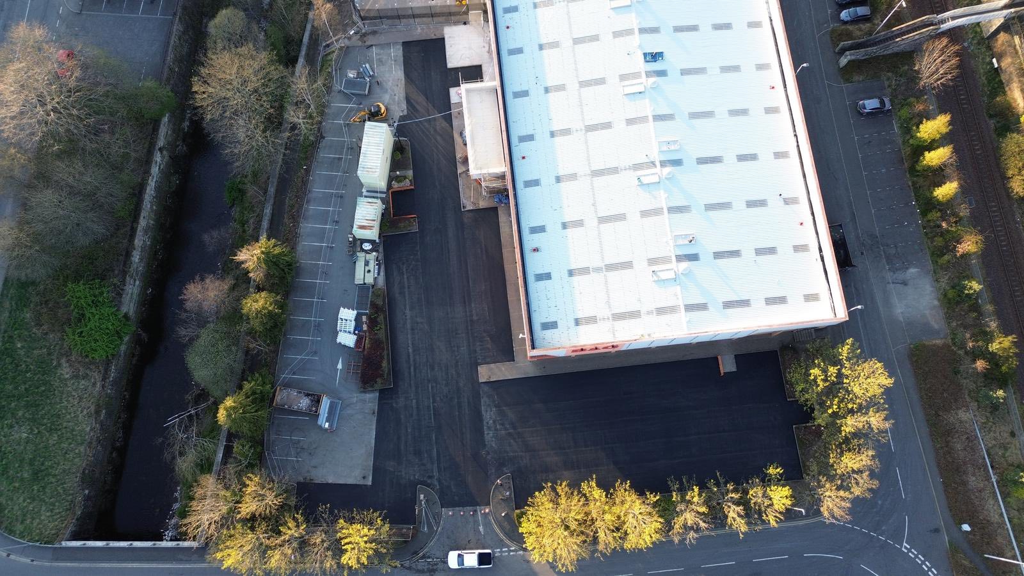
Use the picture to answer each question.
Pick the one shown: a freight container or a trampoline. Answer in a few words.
freight container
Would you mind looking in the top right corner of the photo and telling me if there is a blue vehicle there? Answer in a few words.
Yes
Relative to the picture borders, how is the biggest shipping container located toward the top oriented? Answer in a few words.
up and down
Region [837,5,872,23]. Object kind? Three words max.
car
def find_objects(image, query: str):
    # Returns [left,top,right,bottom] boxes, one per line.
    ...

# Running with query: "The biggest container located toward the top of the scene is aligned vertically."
[357,121,391,186]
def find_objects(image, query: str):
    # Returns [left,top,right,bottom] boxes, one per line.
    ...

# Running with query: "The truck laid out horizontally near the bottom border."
[447,548,495,571]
